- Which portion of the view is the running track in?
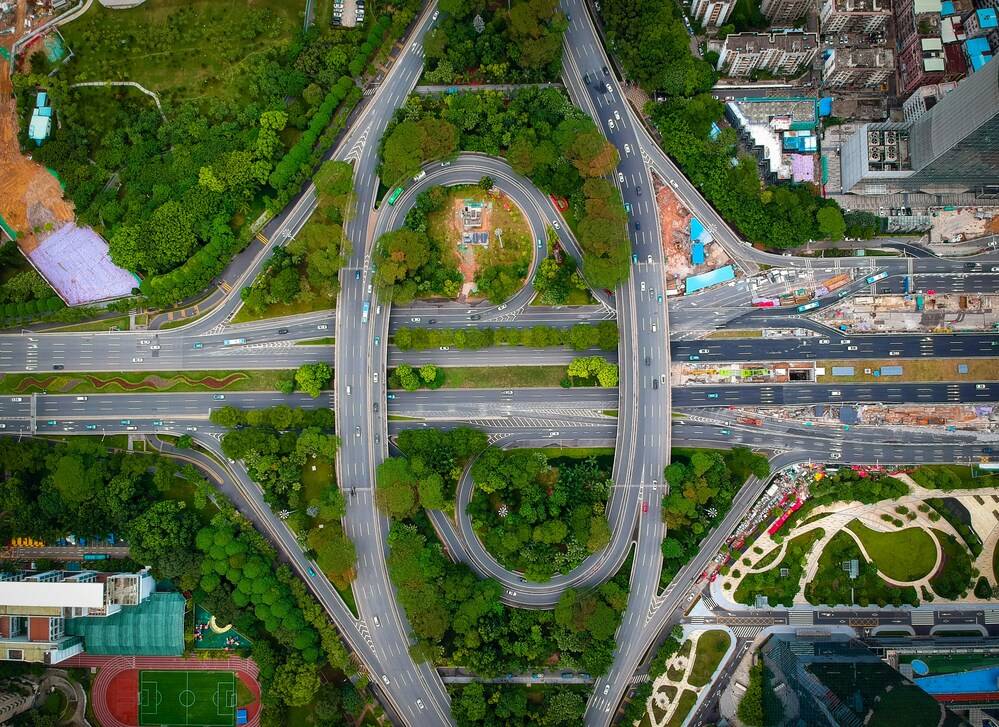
bottom left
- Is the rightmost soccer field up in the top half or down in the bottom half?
bottom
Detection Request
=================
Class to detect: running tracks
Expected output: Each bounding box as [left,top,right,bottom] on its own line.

[52,657,260,727]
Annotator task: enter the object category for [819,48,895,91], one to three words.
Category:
building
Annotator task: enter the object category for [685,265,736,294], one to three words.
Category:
shed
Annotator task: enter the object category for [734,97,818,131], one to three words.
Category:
building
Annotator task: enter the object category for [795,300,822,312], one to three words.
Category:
vehicle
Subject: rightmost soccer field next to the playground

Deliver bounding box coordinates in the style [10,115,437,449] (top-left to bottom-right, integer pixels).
[139,669,237,727]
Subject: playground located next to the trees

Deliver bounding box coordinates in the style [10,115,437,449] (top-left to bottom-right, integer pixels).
[194,605,251,651]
